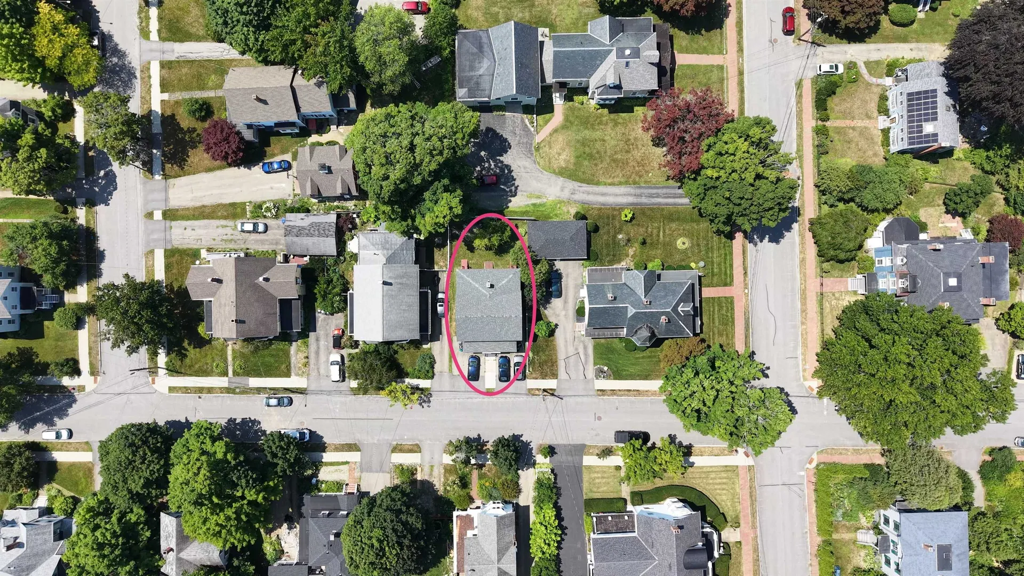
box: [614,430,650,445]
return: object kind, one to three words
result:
vehicle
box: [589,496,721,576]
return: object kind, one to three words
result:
house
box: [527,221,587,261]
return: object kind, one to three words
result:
building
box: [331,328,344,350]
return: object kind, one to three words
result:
vehicle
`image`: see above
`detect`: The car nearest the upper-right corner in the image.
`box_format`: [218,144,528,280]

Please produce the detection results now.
[816,62,843,76]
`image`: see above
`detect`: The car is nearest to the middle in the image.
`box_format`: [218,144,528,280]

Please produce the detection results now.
[549,270,562,298]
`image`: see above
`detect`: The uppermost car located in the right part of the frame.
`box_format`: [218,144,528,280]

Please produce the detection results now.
[781,8,796,37]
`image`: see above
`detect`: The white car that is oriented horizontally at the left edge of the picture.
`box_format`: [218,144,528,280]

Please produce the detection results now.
[41,428,73,441]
